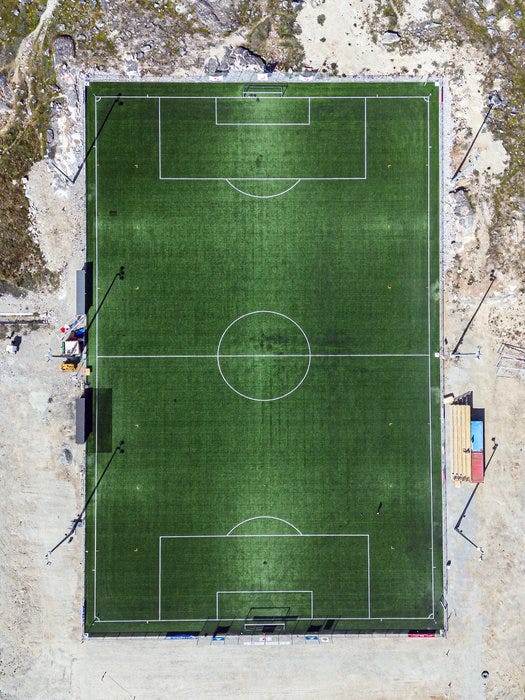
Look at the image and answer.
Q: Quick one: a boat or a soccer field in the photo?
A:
soccer field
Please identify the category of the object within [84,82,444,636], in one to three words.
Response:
soccer field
